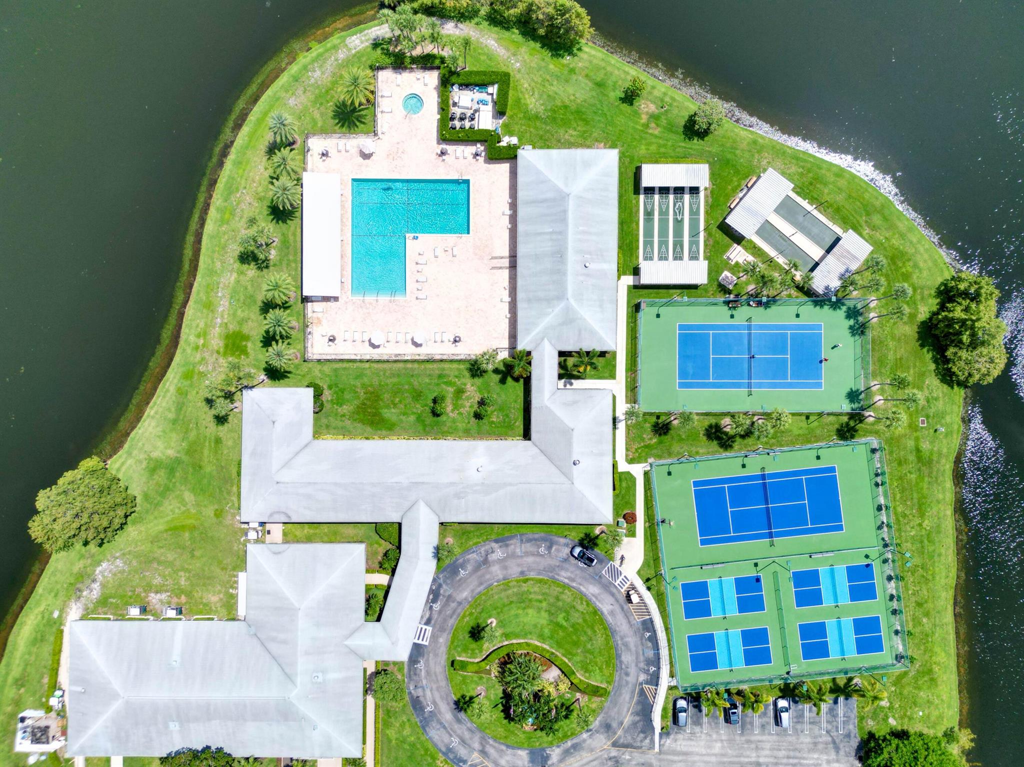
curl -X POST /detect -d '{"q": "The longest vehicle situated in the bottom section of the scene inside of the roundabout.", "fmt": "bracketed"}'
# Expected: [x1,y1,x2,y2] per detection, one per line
[569,546,599,567]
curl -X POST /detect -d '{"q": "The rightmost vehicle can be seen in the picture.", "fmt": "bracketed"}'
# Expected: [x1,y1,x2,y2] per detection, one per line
[775,697,790,727]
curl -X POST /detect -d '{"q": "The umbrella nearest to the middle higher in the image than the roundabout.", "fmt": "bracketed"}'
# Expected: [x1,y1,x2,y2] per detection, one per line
[413,330,429,346]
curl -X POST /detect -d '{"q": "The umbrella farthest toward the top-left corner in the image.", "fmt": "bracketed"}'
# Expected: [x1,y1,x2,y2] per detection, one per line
[360,139,376,155]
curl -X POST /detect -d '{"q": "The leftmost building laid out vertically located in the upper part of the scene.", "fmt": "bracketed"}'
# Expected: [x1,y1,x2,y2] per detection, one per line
[299,171,343,298]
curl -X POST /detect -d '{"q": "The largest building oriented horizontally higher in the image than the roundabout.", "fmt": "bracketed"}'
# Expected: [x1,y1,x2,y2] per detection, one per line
[241,339,613,524]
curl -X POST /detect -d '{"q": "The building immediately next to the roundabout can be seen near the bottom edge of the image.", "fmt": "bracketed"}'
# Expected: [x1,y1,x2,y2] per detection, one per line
[66,544,366,758]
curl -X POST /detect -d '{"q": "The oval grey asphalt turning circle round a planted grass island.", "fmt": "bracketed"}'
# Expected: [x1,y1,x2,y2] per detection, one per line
[405,532,660,767]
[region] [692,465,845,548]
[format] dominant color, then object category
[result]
blue tennis court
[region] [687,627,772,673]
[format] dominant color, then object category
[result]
blue sports court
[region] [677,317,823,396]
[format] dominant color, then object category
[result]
blue tennis court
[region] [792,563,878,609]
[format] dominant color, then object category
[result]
blue sports court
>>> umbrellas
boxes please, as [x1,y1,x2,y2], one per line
[370,330,386,346]
[413,330,429,346]
[360,139,376,155]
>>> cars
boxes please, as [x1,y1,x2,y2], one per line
[726,696,738,726]
[674,697,688,726]
[775,697,790,727]
[569,546,599,567]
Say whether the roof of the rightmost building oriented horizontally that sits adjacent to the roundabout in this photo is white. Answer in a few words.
Yes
